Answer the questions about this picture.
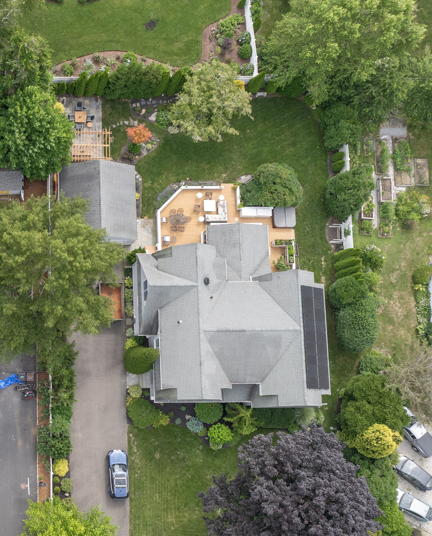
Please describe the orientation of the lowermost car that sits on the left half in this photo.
up and down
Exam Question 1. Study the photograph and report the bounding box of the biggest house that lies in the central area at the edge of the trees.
[132,223,332,409]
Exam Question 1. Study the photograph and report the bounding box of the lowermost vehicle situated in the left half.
[106,449,131,502]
